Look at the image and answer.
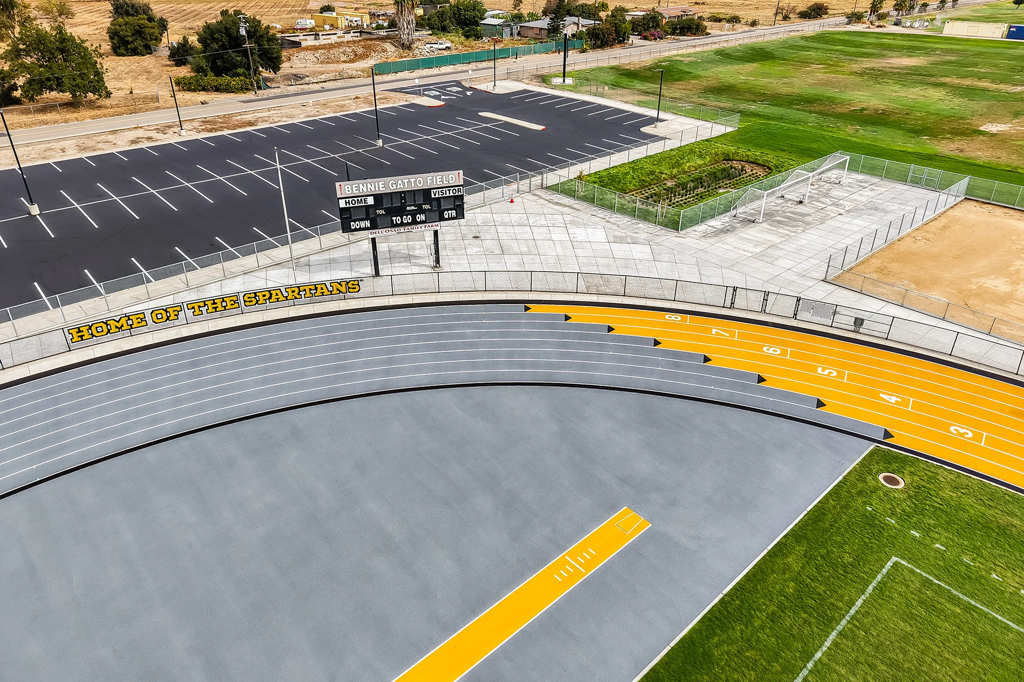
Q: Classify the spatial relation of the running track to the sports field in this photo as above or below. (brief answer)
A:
below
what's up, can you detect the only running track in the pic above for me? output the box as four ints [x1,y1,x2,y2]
[0,299,1024,500]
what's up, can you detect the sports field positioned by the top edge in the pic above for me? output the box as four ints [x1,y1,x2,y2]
[539,31,1024,208]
